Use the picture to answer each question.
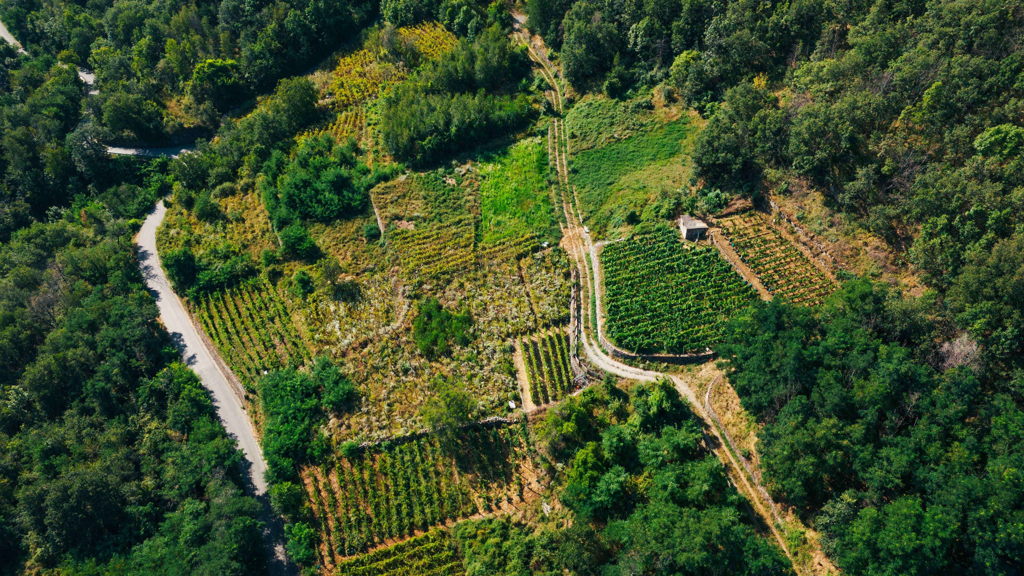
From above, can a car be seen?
No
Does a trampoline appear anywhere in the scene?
No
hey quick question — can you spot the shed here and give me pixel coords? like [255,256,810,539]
[680,212,712,242]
